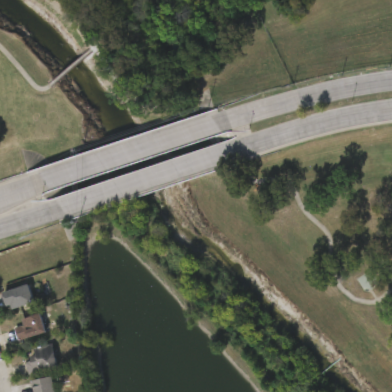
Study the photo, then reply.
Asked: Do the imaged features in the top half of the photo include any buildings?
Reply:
No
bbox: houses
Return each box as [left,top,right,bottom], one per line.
[12,314,46,342]
[31,379,54,392]
[1,284,31,312]
[24,345,56,375]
